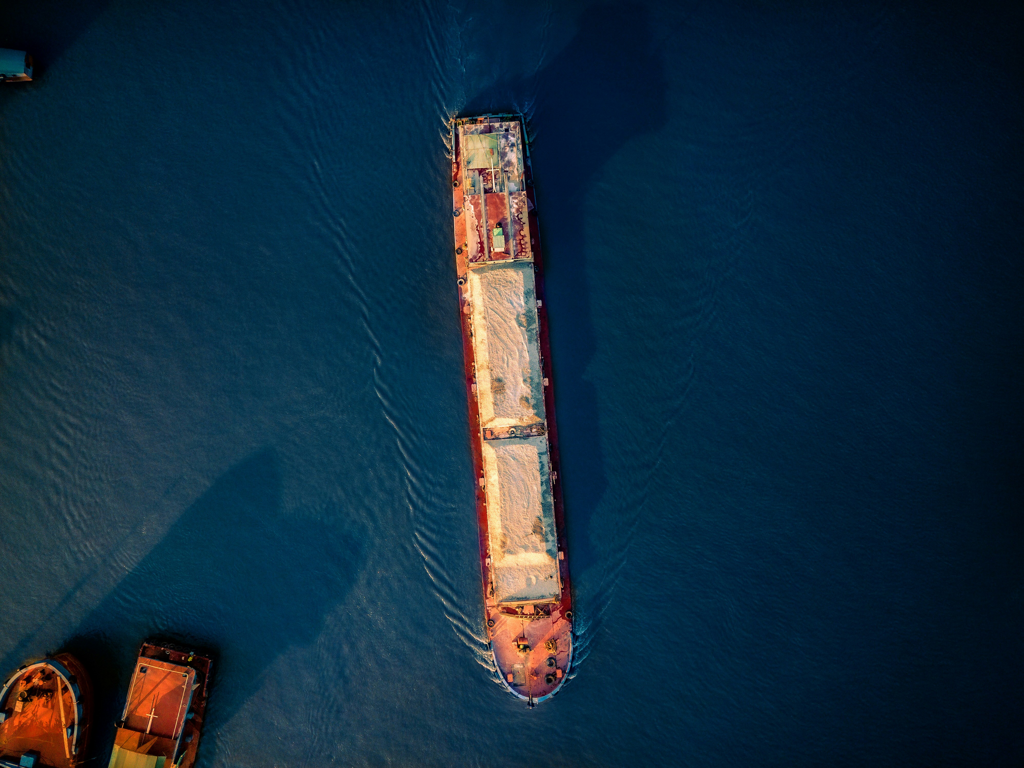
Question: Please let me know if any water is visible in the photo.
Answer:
Yes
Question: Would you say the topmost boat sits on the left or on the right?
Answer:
left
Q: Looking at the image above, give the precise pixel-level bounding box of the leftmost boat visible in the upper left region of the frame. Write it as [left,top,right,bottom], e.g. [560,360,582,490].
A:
[0,51,35,81]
